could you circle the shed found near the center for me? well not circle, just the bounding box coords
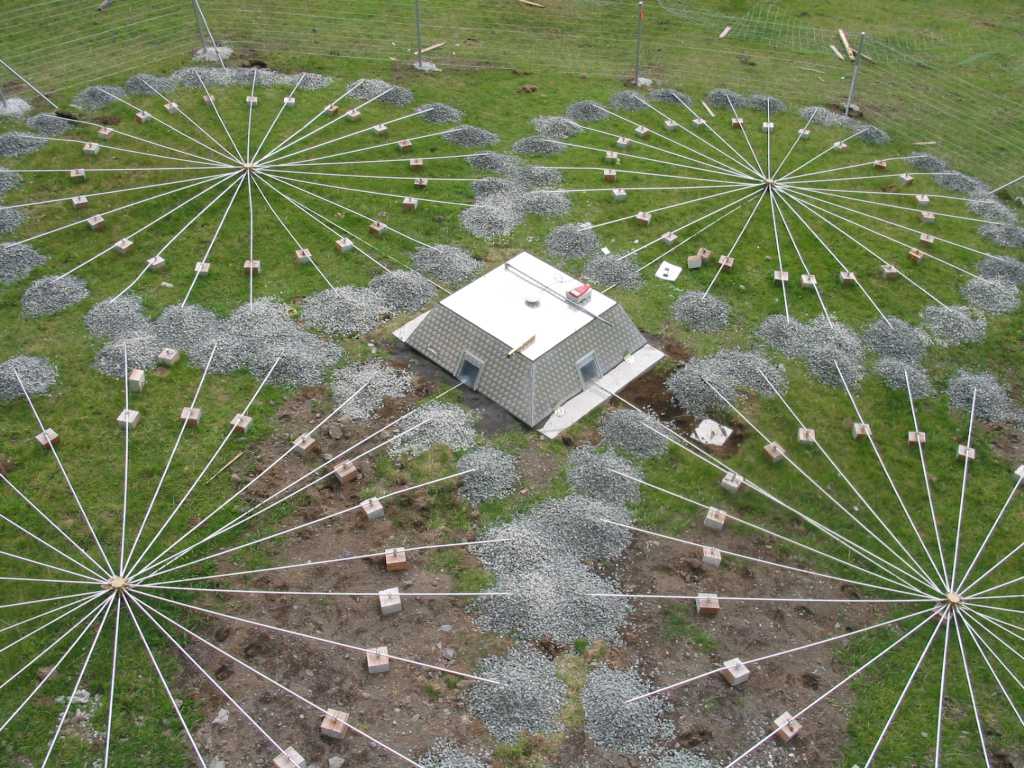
[405,249,648,428]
